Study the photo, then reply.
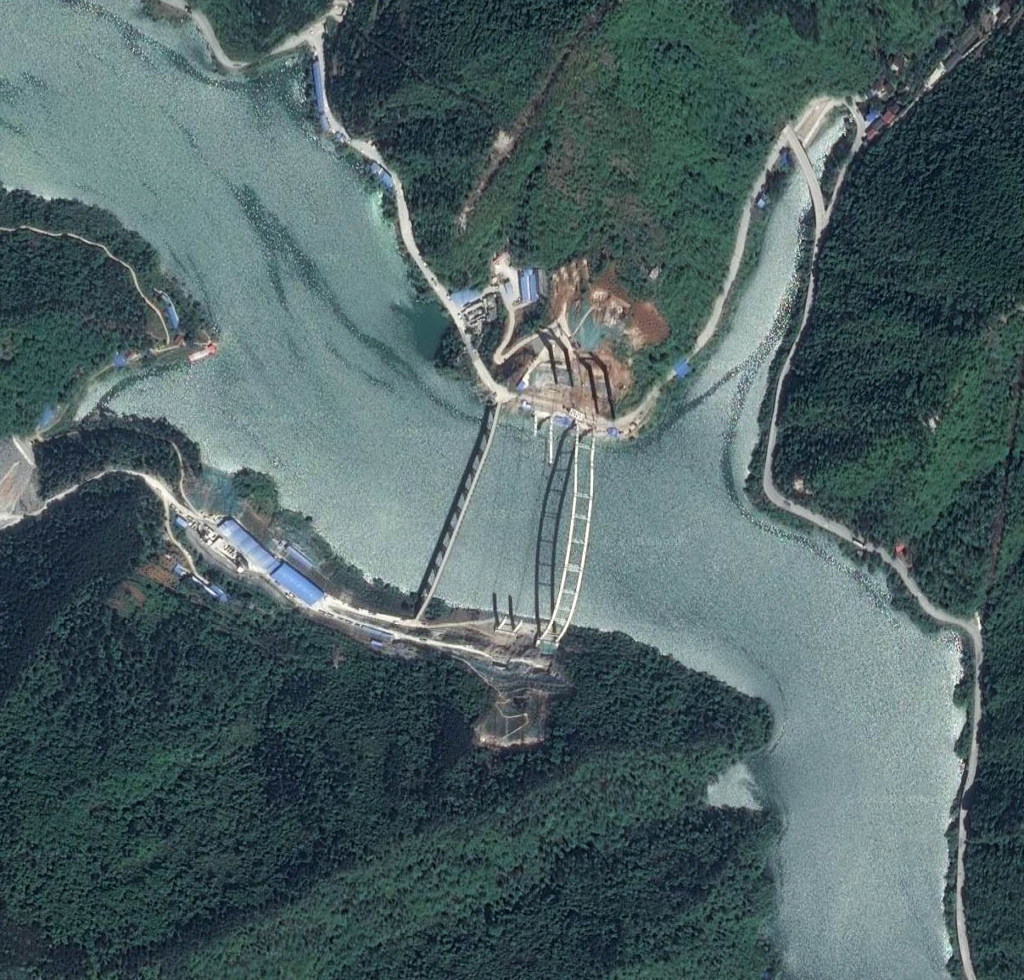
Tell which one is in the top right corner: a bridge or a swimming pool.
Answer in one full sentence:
Looking in the top right corner, you will find a bridge.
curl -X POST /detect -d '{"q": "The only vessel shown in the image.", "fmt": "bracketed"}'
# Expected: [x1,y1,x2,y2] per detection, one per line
[188,347,214,362]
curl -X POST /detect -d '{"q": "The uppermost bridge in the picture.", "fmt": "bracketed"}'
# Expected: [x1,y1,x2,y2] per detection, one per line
[785,124,825,217]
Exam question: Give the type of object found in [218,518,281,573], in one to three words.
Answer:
building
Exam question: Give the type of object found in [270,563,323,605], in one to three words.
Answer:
building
